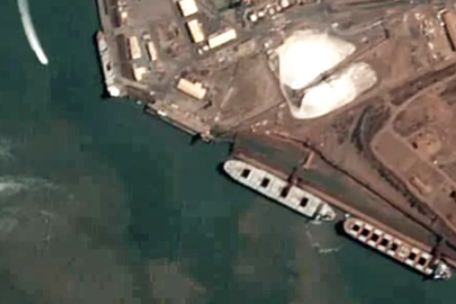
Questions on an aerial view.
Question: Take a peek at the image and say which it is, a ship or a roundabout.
ship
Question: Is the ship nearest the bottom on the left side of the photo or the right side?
right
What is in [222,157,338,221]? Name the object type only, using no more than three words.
ship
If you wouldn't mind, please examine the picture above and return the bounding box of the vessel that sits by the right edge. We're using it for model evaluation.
[344,217,454,279]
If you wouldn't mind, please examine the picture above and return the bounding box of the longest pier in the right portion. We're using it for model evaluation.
[232,151,450,264]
